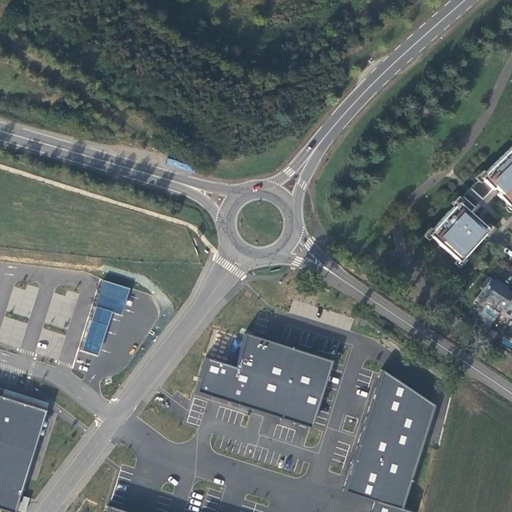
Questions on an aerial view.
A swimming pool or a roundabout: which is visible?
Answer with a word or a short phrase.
roundabout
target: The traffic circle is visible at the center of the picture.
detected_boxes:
[203,169,316,280]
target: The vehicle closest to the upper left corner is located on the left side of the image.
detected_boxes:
[166,157,194,173]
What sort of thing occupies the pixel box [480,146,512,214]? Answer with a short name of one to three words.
building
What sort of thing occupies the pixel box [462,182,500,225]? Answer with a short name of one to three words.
building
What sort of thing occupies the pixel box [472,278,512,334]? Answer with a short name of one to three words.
house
